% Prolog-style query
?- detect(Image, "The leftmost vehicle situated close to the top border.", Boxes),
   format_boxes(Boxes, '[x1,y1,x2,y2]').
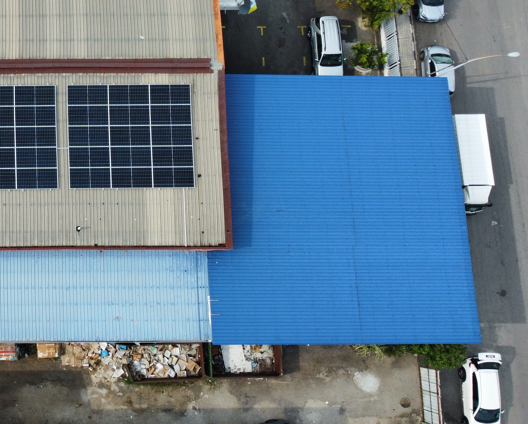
[311,20,352,75]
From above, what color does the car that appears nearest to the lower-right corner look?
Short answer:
white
